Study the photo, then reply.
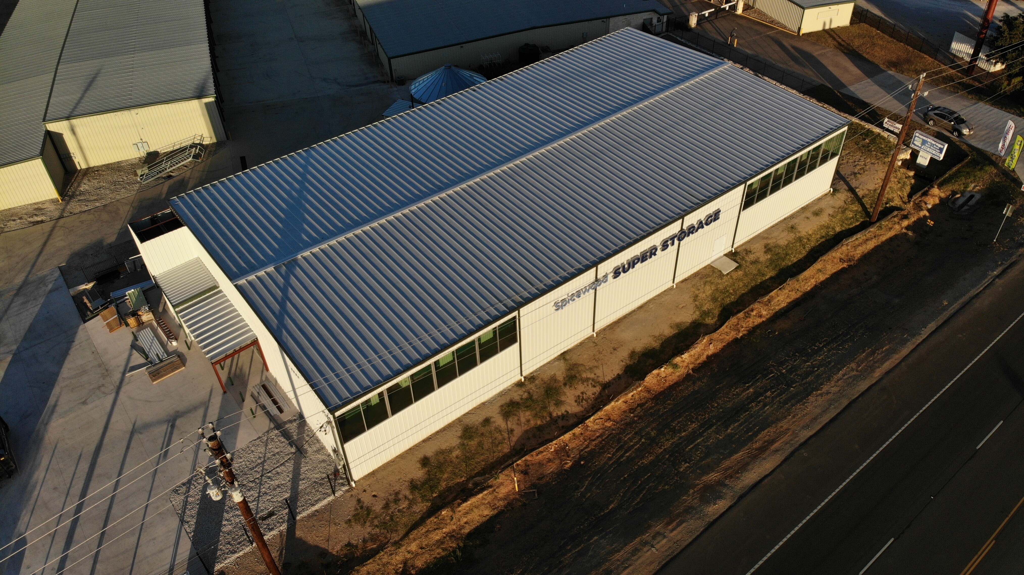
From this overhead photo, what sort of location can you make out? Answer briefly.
industrial area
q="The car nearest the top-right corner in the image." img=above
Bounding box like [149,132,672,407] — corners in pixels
[925,106,977,137]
